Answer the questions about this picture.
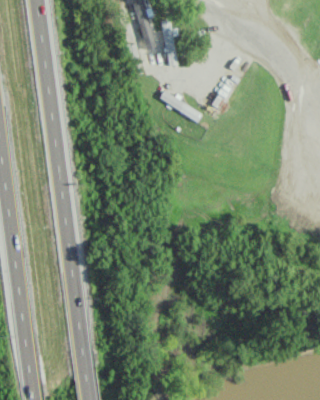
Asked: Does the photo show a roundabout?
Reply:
No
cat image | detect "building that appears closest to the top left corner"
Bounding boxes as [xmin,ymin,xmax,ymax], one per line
[130,3,158,54]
